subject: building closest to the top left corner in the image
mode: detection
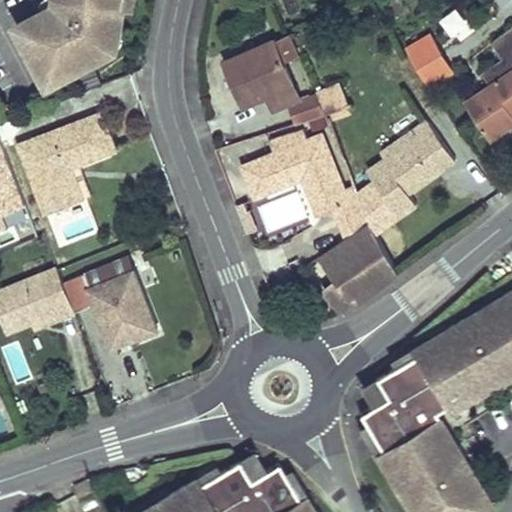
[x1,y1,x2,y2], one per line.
[6,0,134,96]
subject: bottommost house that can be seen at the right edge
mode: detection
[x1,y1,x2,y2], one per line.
[378,423,496,512]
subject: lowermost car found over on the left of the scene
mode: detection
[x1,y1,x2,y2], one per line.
[123,356,136,377]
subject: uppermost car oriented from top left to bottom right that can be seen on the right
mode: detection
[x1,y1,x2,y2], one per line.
[466,162,486,184]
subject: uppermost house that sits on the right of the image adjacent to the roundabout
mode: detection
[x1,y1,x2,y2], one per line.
[238,122,454,240]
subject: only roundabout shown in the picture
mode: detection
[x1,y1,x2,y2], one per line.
[190,320,368,474]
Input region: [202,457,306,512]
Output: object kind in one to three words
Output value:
building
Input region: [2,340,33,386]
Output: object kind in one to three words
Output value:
swimming pool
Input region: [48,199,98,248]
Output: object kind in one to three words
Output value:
swimming pool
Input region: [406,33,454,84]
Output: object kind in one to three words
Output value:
shed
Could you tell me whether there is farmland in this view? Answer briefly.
No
